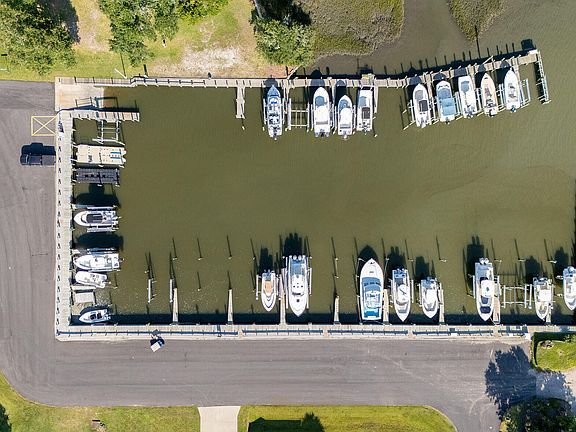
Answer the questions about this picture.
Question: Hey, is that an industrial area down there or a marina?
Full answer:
It's a marina.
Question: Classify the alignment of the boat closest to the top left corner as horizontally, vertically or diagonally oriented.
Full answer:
In this picture, the boat closest to the top left corner is oriented horizontally.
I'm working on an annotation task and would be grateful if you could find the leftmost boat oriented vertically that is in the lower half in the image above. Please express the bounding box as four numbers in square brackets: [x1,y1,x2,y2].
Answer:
[261,268,276,312]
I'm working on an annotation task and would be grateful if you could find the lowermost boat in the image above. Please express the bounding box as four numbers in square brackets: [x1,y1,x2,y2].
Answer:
[79,308,115,324]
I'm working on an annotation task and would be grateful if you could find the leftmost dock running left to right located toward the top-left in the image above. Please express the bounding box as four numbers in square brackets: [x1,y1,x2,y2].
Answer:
[58,110,142,124]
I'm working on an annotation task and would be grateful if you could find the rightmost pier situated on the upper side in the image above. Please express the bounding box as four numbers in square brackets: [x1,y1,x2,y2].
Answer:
[530,55,558,106]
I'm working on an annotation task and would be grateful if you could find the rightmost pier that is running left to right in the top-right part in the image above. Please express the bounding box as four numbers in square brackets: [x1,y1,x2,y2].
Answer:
[396,47,541,93]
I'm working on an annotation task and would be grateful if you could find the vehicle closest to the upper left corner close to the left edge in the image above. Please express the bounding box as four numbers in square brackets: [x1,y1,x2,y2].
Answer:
[20,152,56,168]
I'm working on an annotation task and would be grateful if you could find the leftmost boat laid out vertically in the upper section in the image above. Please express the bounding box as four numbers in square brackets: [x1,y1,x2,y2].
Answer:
[266,85,282,141]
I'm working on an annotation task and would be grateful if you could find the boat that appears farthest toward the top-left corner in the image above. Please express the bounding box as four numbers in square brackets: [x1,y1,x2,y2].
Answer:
[77,145,128,165]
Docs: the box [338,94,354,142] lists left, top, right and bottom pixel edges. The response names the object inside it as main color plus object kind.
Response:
white boat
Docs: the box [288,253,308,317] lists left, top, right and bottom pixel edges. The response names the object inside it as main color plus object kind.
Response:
white boat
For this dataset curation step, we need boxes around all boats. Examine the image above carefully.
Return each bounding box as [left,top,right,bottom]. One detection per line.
[474,260,494,321]
[532,275,554,320]
[359,258,383,322]
[420,277,439,319]
[77,145,128,165]
[480,73,498,118]
[503,68,521,113]
[79,308,115,324]
[560,264,576,310]
[71,253,125,270]
[75,272,112,289]
[266,85,282,141]
[356,87,372,137]
[72,210,123,226]
[434,79,455,126]
[312,86,330,141]
[288,253,308,317]
[338,94,354,142]
[261,268,276,312]
[413,82,431,130]
[392,266,411,321]
[458,74,478,120]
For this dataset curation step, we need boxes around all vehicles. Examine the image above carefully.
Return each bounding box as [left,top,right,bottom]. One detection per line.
[150,336,167,351]
[20,152,56,168]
